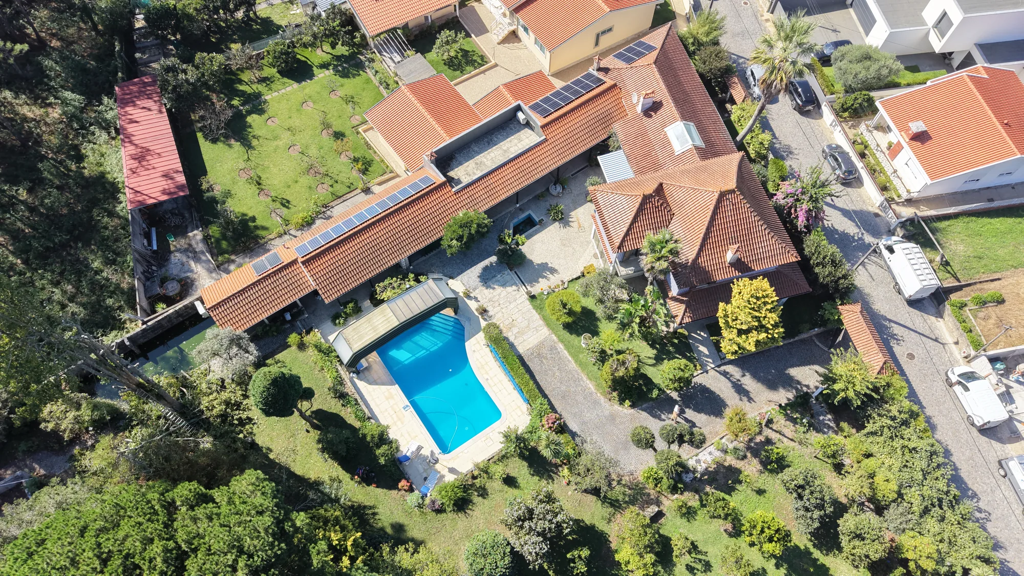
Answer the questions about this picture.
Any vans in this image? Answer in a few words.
Yes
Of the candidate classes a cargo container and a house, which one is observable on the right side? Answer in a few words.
house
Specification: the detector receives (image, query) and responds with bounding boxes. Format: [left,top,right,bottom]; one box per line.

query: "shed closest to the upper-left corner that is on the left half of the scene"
[113,76,205,225]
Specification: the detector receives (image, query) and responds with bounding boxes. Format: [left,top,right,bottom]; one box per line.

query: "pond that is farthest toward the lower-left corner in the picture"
[100,308,222,410]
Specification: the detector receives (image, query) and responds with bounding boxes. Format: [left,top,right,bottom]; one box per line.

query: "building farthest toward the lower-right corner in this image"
[838,303,902,382]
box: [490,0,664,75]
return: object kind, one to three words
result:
house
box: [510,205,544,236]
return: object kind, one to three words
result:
swimming pool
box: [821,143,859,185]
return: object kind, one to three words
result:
car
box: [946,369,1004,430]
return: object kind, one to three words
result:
van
